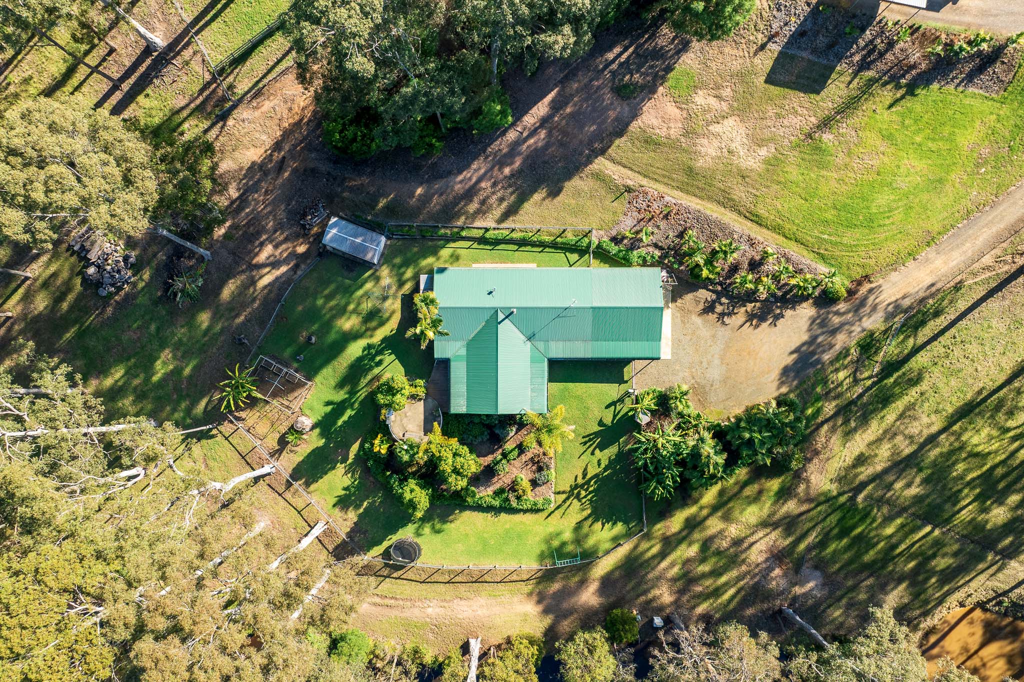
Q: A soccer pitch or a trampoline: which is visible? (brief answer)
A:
trampoline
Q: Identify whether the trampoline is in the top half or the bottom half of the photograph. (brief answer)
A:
bottom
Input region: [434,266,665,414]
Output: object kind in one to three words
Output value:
house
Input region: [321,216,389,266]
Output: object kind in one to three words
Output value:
shed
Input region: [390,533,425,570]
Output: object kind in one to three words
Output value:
trampoline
